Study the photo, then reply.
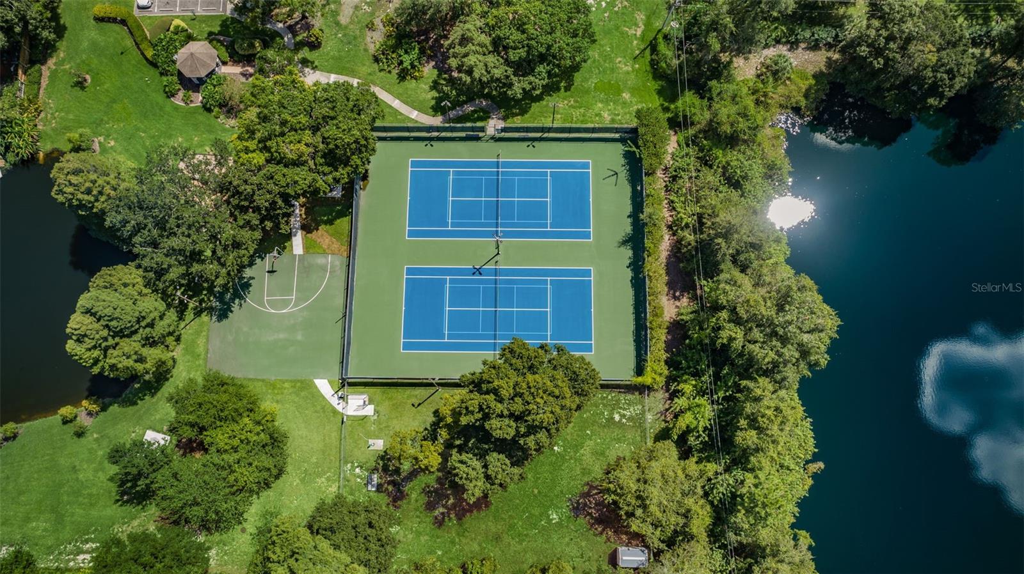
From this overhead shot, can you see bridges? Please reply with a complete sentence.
No, no bridge can be seen from above.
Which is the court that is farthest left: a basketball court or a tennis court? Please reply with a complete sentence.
From above, the court that is farthest left can be identified as a basketball court.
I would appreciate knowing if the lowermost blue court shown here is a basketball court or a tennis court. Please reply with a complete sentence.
The lowermost blue court can be classified as a tennis court.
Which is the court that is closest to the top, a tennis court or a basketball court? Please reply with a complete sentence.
In the photo, the court that is closest to the top shows up as a tennis court.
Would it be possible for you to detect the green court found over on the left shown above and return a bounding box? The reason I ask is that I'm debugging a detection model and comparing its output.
[207,254,348,379]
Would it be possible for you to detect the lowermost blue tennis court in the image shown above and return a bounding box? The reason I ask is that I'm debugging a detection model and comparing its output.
[402,266,593,353]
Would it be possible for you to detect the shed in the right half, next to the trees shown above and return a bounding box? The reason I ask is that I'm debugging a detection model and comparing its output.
[615,546,650,569]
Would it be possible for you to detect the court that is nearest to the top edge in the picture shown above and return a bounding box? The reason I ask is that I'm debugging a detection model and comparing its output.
[407,159,591,240]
